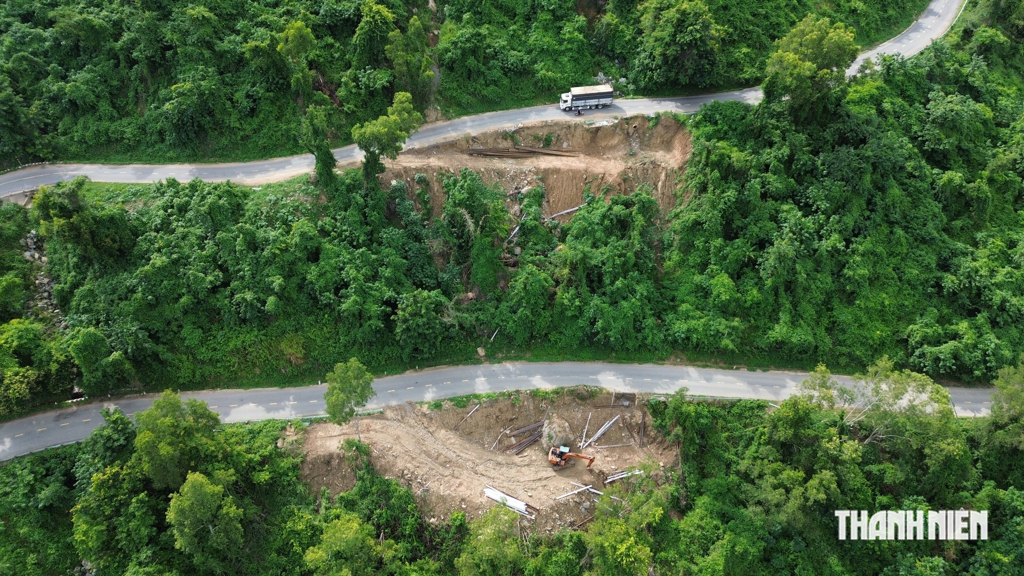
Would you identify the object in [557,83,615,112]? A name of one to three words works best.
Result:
truck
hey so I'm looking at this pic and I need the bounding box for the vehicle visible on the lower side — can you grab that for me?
[550,448,598,472]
